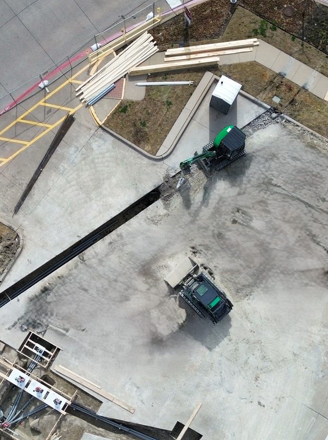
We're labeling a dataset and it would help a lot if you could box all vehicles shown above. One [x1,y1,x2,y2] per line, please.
[180,129,250,178]
[163,256,235,323]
